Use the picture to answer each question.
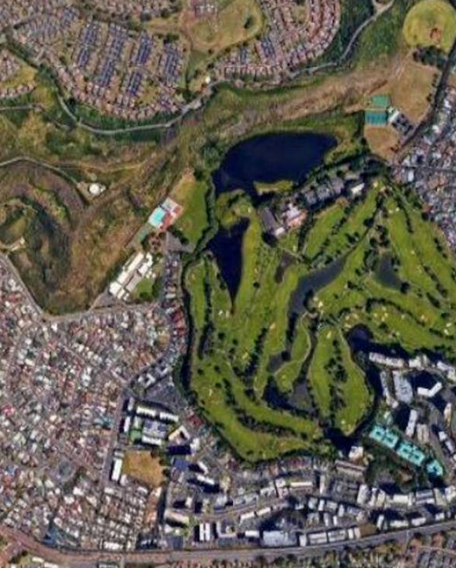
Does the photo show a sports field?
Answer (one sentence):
Yes, the photo shows a sports field.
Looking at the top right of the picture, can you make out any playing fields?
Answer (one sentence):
Yes, I can see a playing field at the top right of the picture.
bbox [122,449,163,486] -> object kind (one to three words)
sports field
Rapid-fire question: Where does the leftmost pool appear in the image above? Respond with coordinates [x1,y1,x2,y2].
[148,207,166,225]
